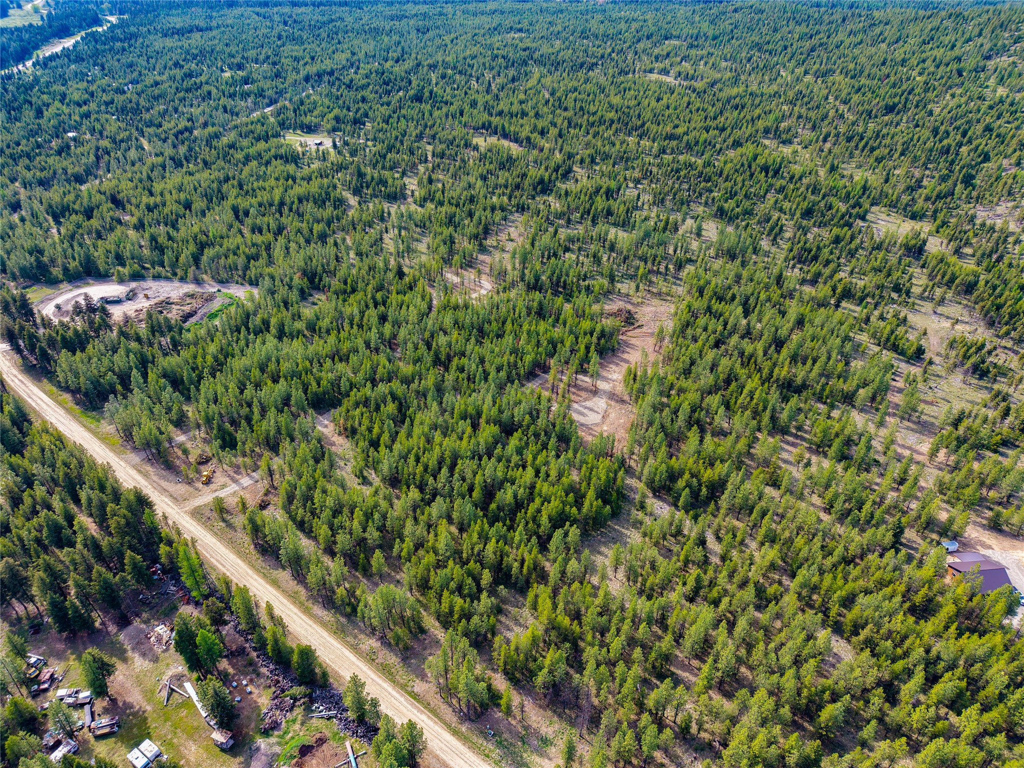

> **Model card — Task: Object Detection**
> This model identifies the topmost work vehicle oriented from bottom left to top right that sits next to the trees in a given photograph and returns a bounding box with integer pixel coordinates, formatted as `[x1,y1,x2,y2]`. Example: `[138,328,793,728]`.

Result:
[198,465,222,489]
